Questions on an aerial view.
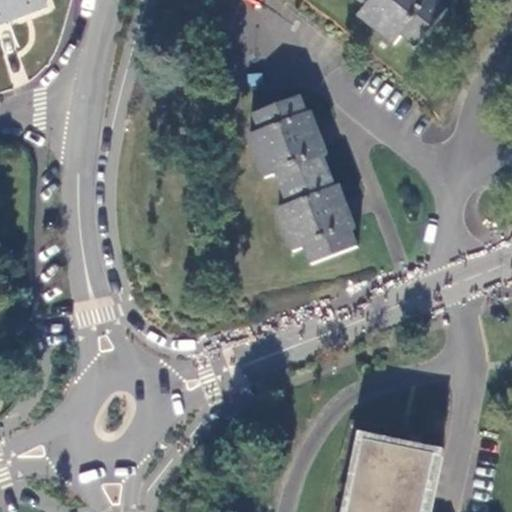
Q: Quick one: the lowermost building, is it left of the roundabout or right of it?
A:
on the right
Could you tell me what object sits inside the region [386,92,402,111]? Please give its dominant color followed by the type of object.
white car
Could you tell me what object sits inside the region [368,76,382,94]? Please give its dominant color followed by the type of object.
white car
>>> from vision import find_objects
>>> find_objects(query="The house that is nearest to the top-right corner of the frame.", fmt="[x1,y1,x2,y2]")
[356,0,446,45]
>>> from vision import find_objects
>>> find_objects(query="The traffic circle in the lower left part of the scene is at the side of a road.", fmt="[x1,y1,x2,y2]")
[0,296,231,512]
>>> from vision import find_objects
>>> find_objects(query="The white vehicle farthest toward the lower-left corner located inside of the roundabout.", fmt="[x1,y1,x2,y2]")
[78,468,106,481]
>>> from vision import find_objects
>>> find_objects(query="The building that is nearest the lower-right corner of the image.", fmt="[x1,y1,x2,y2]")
[340,430,442,512]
